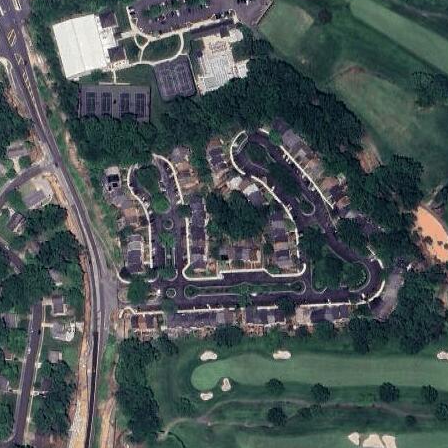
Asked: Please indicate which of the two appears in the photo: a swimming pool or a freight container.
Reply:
swimming pool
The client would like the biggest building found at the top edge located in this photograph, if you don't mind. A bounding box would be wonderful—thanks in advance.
[52,14,107,78]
